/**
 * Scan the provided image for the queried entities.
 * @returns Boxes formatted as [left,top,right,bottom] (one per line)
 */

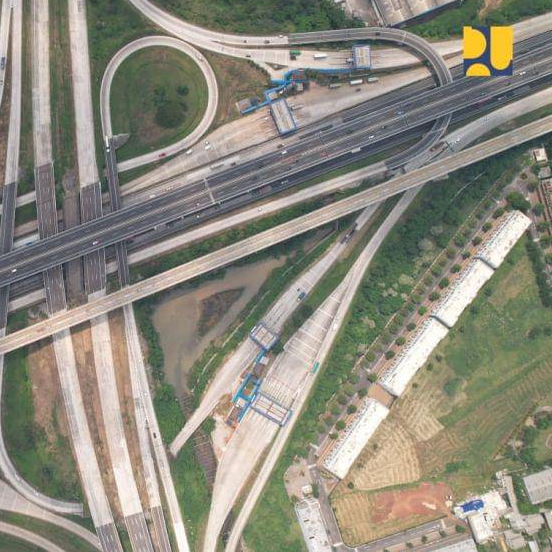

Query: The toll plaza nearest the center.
[233,258,330,367]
